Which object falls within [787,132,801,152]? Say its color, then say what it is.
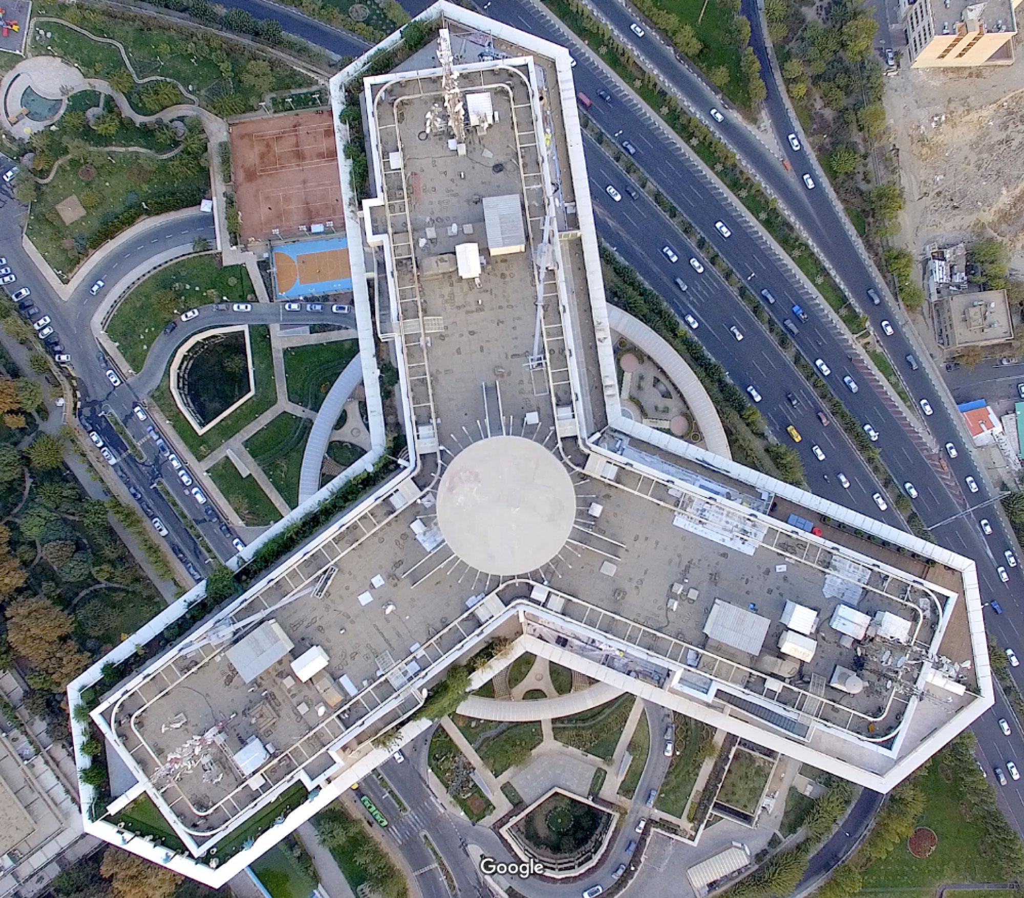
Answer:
white car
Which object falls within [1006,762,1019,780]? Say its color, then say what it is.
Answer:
white vehicle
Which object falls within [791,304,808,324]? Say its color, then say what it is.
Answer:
blue vehicle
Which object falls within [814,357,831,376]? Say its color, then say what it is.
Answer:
white car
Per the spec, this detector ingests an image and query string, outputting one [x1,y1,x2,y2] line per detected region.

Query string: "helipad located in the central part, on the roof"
[437,436,577,576]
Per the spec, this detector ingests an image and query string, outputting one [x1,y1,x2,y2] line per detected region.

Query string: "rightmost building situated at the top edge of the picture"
[905,0,1016,64]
